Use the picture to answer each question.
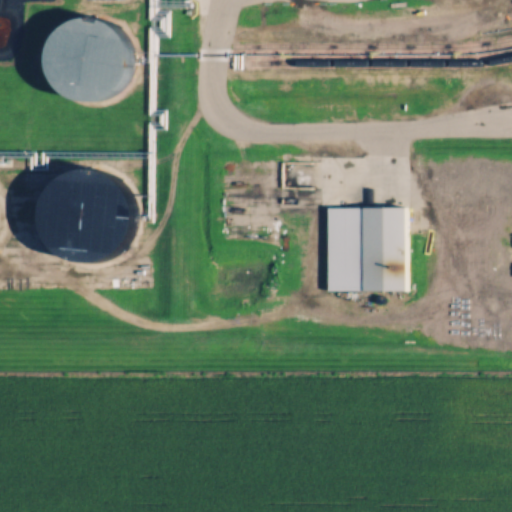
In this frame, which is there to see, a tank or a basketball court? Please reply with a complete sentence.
The one in the frame is a tank.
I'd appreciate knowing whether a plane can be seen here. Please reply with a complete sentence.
No, this view has no plane in it.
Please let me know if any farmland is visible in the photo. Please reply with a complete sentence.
Yes, there's farmland in this view.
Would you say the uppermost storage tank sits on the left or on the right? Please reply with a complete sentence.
The uppermost storage tank appears in the left half of the scene.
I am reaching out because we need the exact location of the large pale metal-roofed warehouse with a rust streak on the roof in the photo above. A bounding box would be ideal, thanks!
[327,207,410,291]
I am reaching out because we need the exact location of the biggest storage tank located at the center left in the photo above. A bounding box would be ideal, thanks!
[36,168,138,263]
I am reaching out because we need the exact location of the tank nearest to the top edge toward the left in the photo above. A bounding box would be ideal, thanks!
[42,16,135,104]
